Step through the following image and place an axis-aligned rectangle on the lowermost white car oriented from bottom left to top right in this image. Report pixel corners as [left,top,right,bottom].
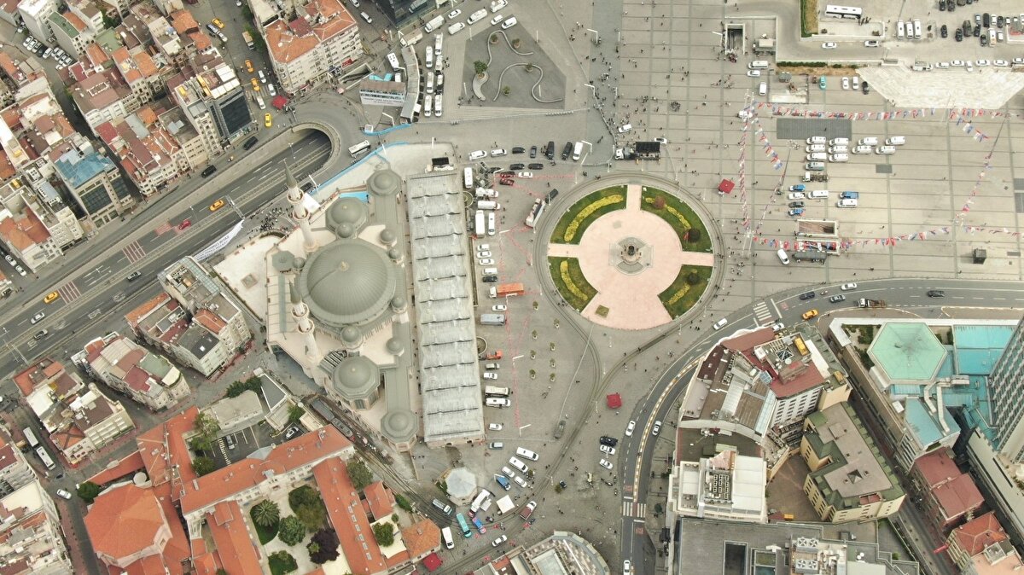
[492,535,508,547]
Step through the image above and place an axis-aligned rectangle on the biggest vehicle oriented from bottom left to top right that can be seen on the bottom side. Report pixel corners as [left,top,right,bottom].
[466,484,492,519]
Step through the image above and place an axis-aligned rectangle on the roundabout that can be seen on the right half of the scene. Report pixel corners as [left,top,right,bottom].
[532,172,728,345]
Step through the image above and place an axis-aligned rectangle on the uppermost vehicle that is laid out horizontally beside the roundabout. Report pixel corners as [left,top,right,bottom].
[614,145,662,160]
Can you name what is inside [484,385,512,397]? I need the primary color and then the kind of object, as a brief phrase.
white vehicle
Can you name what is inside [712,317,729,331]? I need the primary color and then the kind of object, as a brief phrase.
white car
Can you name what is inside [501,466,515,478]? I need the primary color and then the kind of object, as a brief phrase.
white vehicle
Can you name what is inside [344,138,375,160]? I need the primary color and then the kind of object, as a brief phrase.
white bus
